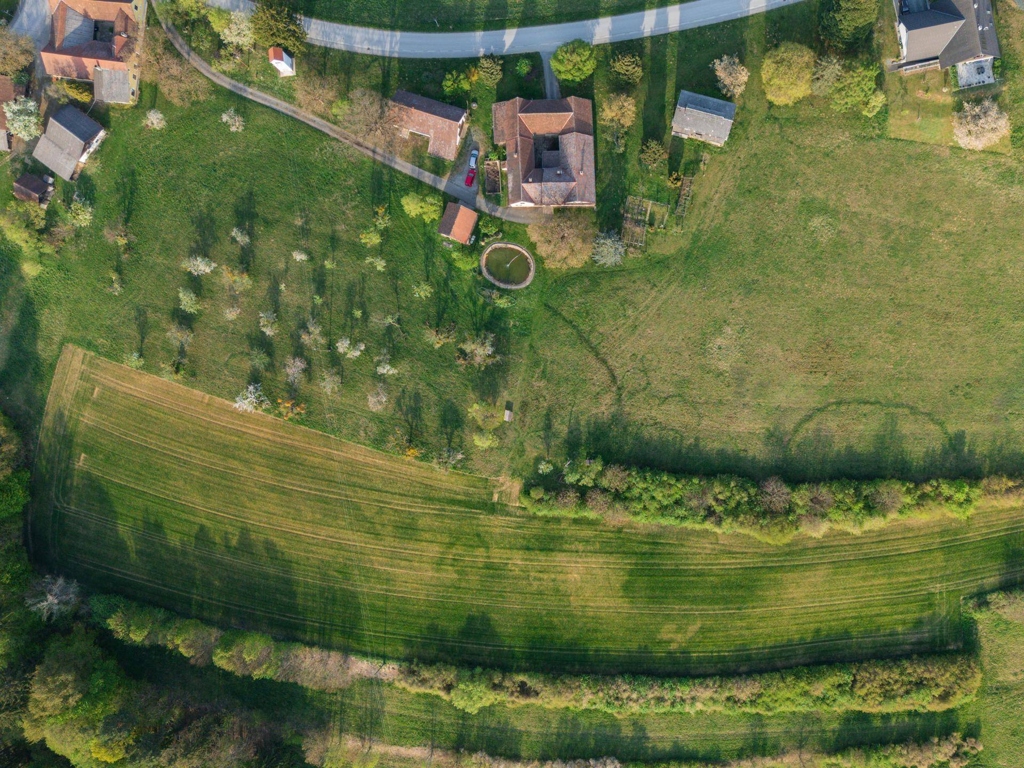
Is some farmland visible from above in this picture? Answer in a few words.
Yes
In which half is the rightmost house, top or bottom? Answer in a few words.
top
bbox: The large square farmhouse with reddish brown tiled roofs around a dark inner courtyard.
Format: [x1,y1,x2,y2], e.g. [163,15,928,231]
[492,96,595,208]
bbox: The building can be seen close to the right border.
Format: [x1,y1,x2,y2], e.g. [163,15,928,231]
[887,0,1000,72]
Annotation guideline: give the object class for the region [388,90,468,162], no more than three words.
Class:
barn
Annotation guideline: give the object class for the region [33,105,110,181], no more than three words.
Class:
barn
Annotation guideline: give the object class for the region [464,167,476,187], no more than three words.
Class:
vehicle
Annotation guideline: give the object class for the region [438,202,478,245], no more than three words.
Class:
building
